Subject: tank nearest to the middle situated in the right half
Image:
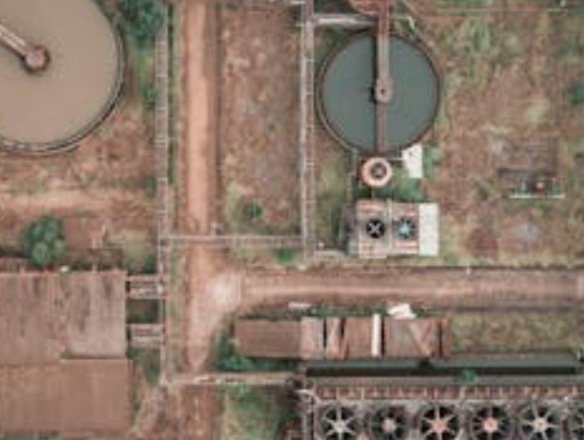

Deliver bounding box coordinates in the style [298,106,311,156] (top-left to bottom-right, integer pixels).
[355,156,392,187]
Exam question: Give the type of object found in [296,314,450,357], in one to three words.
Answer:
shed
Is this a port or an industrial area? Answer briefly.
industrial area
